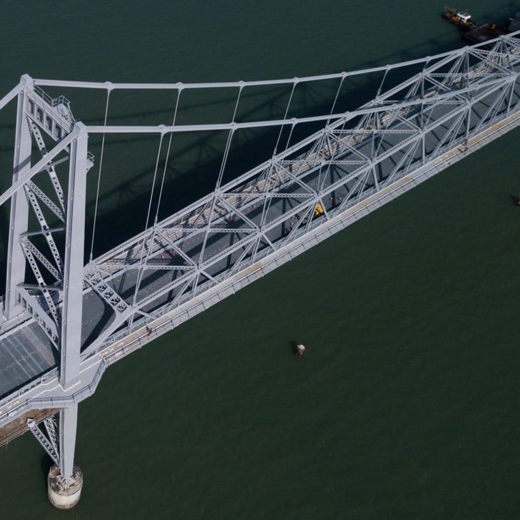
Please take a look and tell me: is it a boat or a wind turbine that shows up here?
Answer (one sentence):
There is a boat in the scene.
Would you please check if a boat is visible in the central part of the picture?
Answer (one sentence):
No, no boat appears in the central part of the picture.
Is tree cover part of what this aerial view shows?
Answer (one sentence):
No, the scene doesn't show any tree cover.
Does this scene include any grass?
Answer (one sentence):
No, no grass is visible.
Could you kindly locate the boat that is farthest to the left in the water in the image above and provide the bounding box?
[444,1,480,26]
